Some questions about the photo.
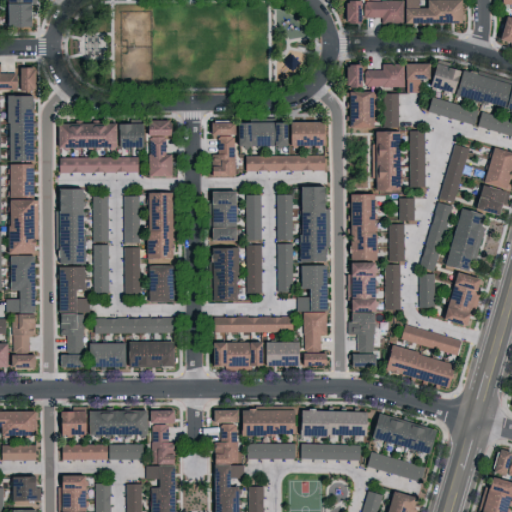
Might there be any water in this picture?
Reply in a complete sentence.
No, the picture contains no water.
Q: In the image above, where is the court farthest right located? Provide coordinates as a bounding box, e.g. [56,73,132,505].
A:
[290,481,322,512]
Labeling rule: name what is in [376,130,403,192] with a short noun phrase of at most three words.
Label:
building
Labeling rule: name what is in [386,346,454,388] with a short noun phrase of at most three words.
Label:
building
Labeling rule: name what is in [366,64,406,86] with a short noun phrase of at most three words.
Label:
house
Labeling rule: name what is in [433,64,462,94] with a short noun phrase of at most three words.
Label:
house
